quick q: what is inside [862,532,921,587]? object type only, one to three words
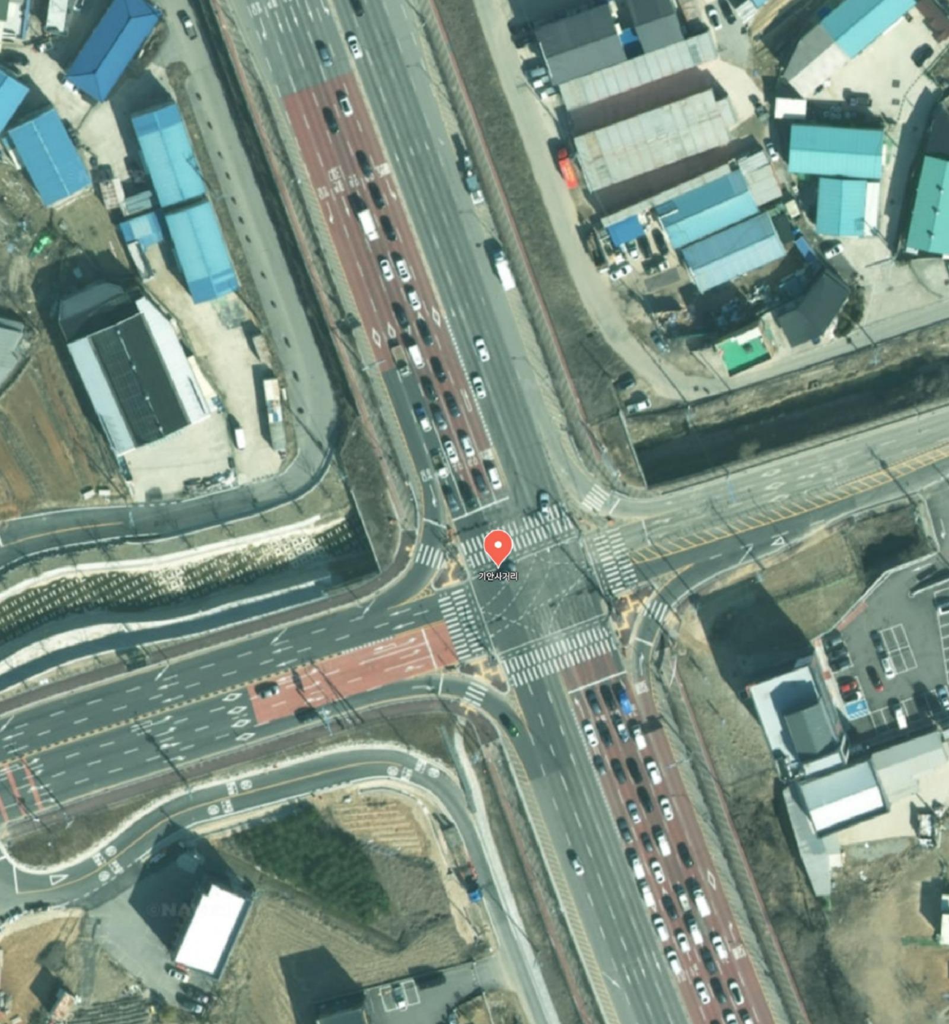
pond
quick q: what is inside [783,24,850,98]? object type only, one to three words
building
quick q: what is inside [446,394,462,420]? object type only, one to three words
car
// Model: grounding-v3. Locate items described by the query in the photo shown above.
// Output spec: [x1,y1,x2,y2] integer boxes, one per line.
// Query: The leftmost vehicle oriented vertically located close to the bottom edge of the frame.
[394,984,406,1007]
